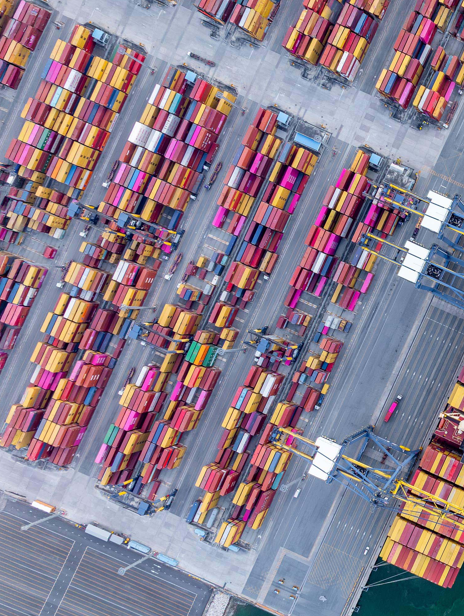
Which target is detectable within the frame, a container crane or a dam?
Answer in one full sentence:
The one in the frame is a container crane.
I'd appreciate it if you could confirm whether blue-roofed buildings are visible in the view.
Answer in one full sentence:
Yes, a blue-roofed building can be made out from above.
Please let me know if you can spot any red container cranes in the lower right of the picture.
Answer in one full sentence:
No, I can find no red container crane in the lower right of the picture.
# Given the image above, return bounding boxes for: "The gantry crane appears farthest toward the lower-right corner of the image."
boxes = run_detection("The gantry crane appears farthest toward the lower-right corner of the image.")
[266,422,464,531]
